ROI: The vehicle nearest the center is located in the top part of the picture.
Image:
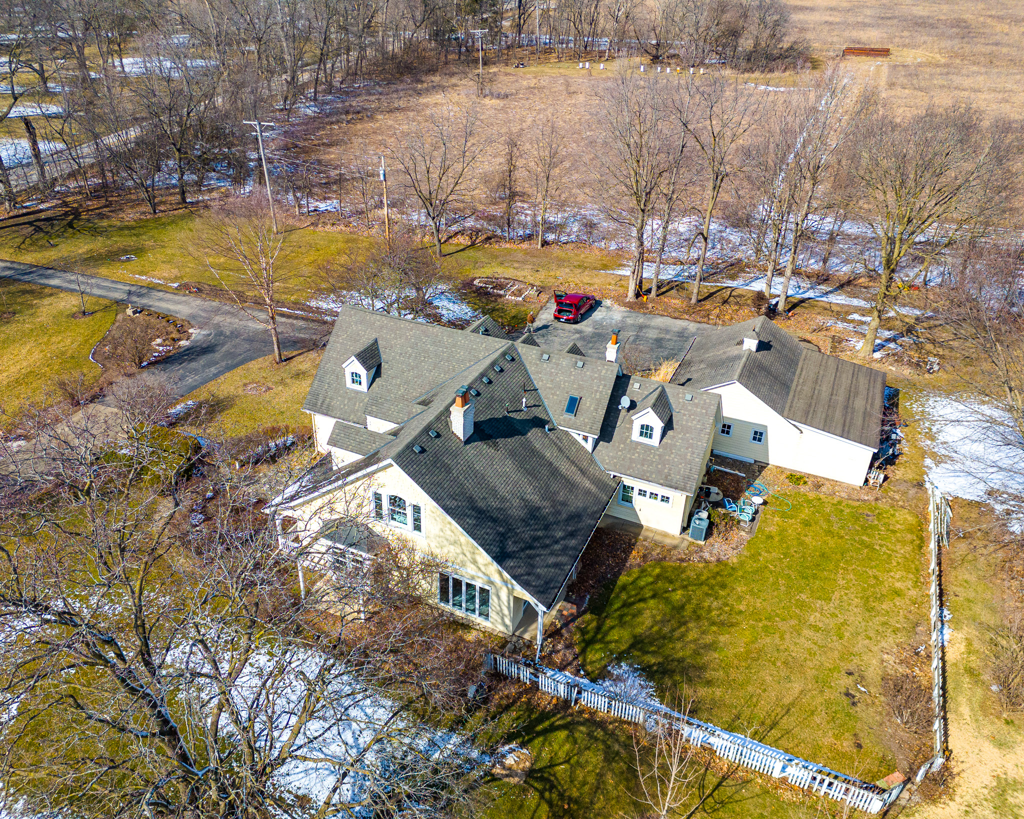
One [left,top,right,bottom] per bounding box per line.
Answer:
[554,289,597,323]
